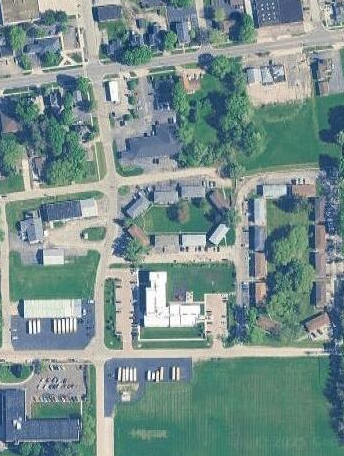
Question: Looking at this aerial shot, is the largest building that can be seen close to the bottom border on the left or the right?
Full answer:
The largest building that can be seen close to the bottom border appears in the left half of the scene.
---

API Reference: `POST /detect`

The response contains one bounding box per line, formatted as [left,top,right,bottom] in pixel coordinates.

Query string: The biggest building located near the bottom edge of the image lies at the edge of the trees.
[6,390,79,442]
